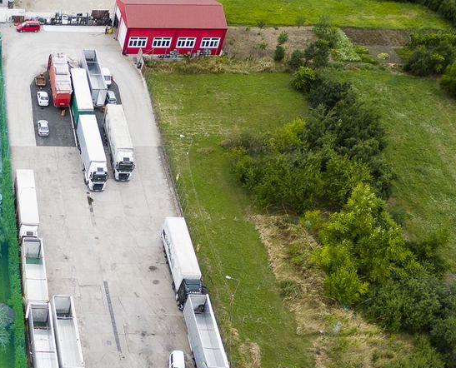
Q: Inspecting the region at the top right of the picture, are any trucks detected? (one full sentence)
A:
No, no truck can be made out at the top right of the picture.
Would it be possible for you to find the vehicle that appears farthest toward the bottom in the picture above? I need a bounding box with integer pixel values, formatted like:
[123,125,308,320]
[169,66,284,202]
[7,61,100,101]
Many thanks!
[165,348,184,368]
